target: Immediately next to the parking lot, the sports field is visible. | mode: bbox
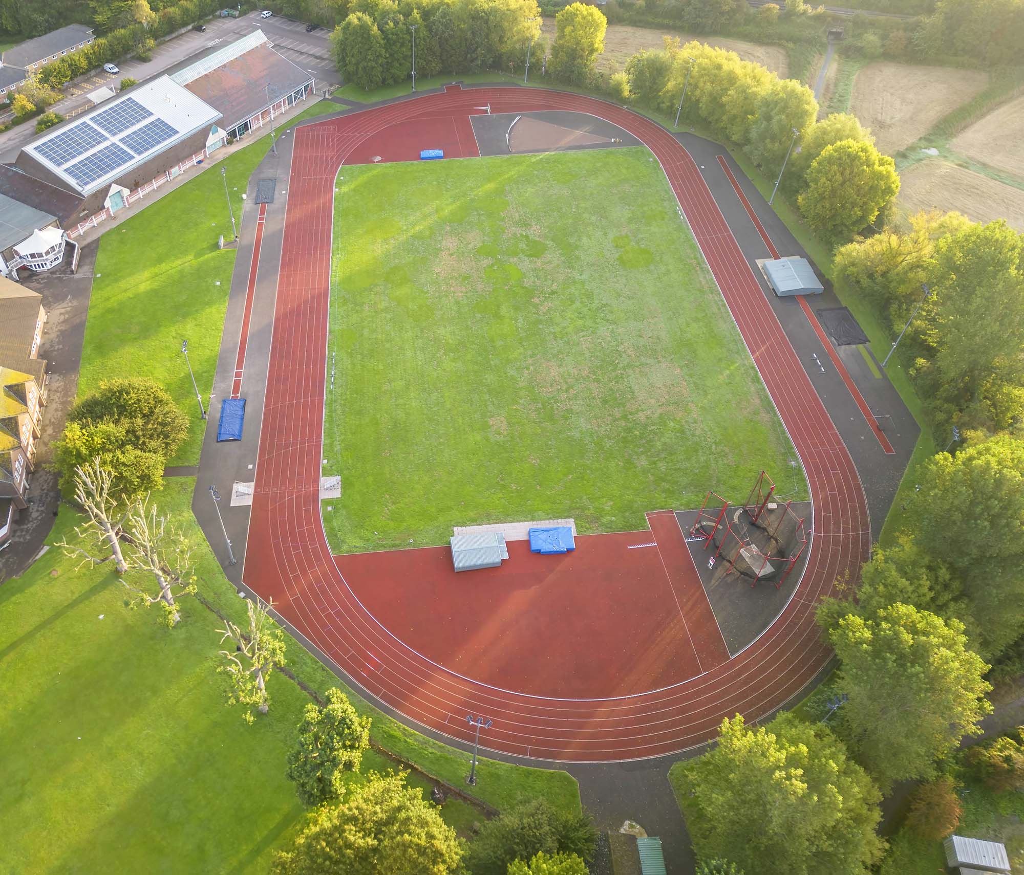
[320,146,811,553]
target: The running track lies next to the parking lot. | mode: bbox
[241,84,871,763]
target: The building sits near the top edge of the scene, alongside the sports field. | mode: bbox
[0,32,319,239]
